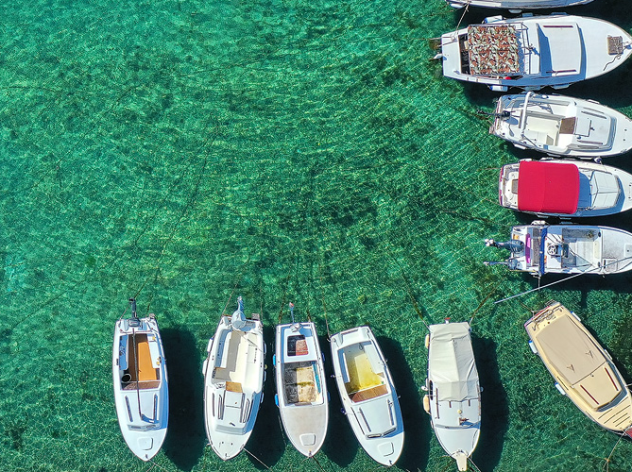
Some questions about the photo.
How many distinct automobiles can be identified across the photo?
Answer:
zero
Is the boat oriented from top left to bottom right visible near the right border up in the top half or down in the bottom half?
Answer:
bottom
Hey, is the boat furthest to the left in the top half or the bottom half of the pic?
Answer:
bottom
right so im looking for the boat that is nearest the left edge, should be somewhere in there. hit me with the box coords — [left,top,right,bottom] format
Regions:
[113,295,170,462]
